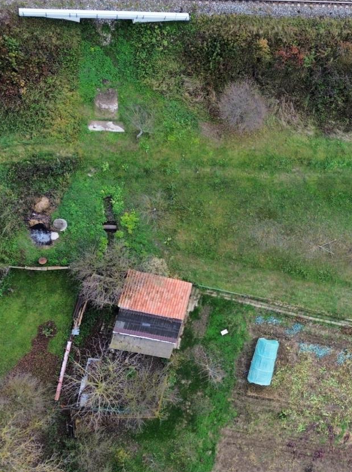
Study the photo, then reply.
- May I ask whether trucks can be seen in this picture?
No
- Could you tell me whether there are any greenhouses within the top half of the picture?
No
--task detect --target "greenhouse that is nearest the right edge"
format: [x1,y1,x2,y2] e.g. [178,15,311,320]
[242,337,277,388]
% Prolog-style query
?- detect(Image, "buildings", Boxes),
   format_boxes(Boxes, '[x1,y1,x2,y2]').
[242,337,277,388]
[109,270,205,359]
